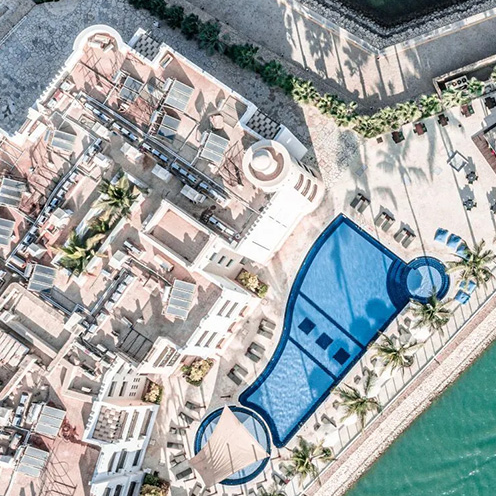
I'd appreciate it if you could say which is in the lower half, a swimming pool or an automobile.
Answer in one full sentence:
The feature located in the lower half is a swimming pool.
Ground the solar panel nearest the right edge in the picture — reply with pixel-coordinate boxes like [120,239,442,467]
[199,130,233,165]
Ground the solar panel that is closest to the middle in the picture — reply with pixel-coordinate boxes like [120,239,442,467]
[162,279,199,320]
